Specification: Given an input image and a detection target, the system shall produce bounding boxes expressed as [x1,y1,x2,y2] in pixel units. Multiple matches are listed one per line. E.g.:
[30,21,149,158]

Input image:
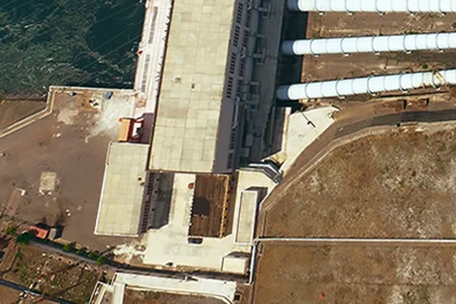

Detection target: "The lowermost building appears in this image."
[93,271,240,304]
